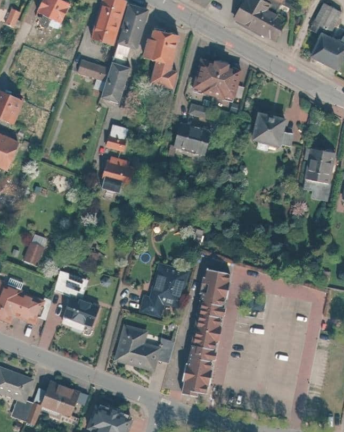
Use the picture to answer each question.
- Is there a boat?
No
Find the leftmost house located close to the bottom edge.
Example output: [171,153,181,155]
[0,366,42,425]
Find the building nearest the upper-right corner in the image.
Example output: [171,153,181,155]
[311,3,342,33]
